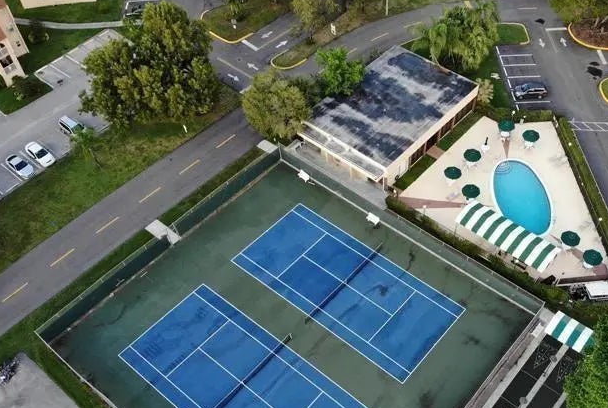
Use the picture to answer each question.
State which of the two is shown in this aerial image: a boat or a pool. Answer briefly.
pool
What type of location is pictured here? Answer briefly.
sports ground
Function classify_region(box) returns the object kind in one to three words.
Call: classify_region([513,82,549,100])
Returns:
car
